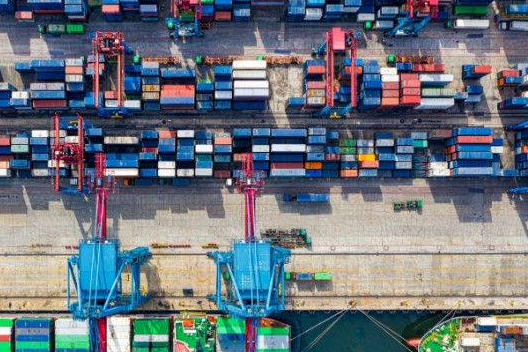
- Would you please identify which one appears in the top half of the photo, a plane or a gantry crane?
gantry crane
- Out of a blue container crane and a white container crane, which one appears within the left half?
blue container crane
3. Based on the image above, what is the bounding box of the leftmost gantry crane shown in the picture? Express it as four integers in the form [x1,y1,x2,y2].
[53,112,96,196]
